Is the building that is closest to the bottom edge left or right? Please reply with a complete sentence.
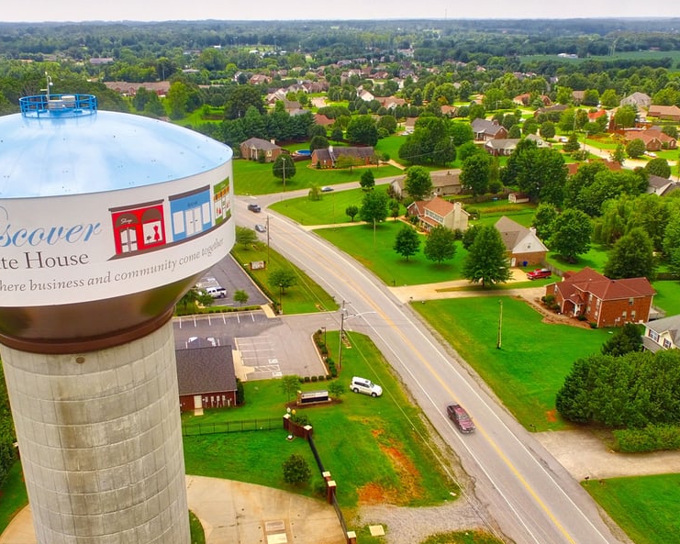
The building that is closest to the bottom edge appears in the left half of the scene.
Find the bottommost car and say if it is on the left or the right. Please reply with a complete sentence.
It is on the right.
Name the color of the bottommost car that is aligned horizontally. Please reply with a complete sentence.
From above, the bottommost car that is aligned horizontally appears white.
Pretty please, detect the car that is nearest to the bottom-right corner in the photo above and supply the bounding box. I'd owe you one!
[448,404,477,434]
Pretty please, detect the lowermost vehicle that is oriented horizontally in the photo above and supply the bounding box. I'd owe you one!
[349,375,385,395]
